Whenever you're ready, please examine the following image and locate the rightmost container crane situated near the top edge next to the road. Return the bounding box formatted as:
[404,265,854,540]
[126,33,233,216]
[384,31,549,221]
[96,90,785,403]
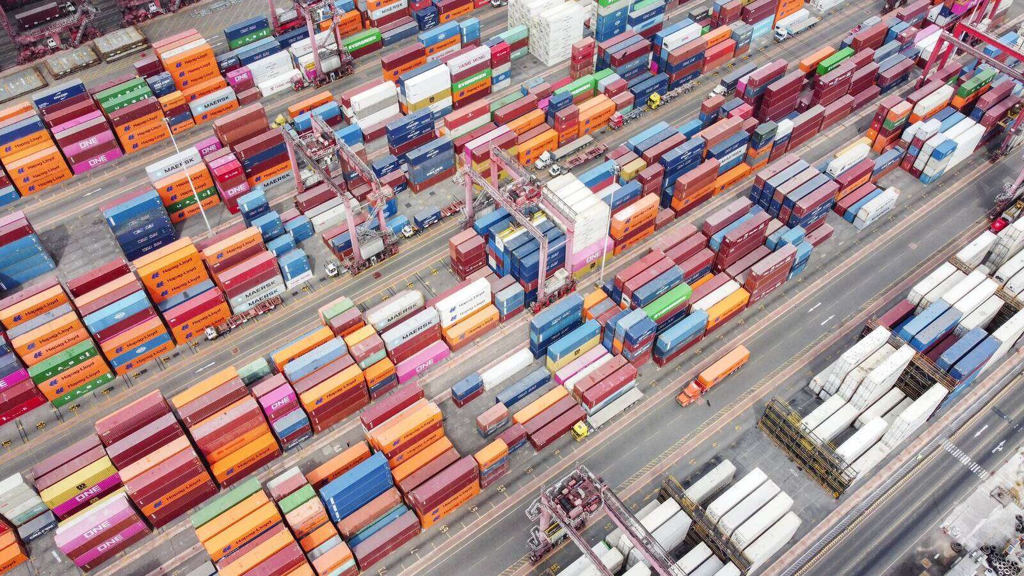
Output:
[903,16,1024,156]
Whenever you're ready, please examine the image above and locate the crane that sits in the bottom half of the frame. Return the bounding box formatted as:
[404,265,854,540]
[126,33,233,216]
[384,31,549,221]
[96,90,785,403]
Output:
[525,459,696,576]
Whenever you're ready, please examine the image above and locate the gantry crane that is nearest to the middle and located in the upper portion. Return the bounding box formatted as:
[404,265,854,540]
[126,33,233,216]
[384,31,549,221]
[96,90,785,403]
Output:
[453,140,588,309]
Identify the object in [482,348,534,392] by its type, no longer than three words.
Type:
shipping container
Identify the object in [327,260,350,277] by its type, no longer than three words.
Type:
vehicle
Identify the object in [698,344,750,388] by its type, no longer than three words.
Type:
shipping container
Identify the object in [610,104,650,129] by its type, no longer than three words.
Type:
truck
